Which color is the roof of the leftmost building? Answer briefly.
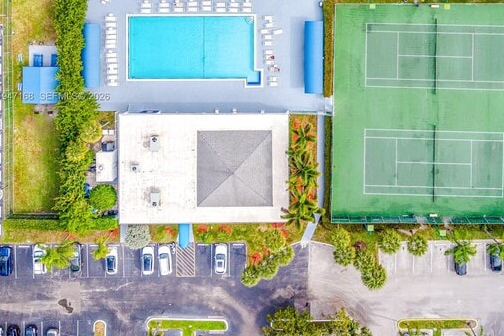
blue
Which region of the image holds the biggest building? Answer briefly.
center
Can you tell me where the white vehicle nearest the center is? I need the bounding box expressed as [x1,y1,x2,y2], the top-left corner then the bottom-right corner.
[215,243,228,272]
